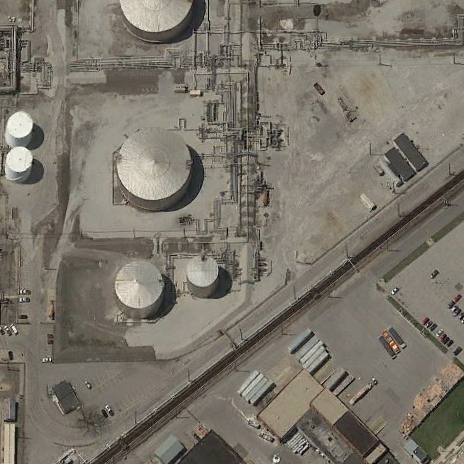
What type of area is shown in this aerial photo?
industrial area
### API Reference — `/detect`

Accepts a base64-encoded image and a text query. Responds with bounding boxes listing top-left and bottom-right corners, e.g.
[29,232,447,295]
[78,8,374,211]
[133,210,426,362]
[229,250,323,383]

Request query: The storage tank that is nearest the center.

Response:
[186,253,219,299]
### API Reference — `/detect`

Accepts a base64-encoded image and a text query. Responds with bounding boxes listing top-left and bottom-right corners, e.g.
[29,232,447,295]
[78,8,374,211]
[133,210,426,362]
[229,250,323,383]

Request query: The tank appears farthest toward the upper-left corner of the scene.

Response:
[6,111,34,148]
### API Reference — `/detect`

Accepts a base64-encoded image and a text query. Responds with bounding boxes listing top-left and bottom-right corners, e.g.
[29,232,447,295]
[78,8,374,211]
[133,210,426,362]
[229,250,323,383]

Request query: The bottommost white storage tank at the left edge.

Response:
[5,146,33,185]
